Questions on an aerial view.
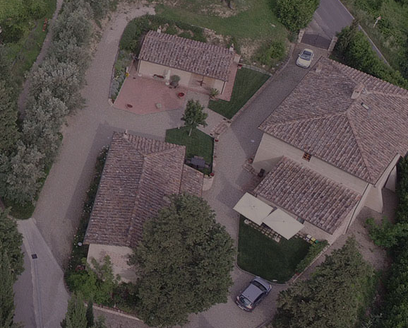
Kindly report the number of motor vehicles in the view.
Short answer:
two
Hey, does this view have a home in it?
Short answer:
Yes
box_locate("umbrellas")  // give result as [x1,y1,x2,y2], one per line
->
[234,194,272,228]
[262,209,302,242]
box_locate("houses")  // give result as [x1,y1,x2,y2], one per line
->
[253,55,408,248]
[83,127,208,276]
[138,24,235,93]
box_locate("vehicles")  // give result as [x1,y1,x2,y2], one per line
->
[234,274,276,309]
[297,42,316,65]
